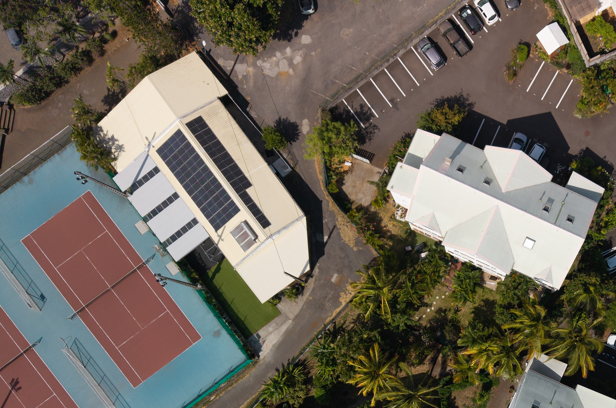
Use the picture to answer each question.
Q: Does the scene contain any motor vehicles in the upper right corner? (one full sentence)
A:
Yes, a motor vehicle is visible in the upper right corner.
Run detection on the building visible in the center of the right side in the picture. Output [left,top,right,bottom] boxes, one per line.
[386,128,605,290]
